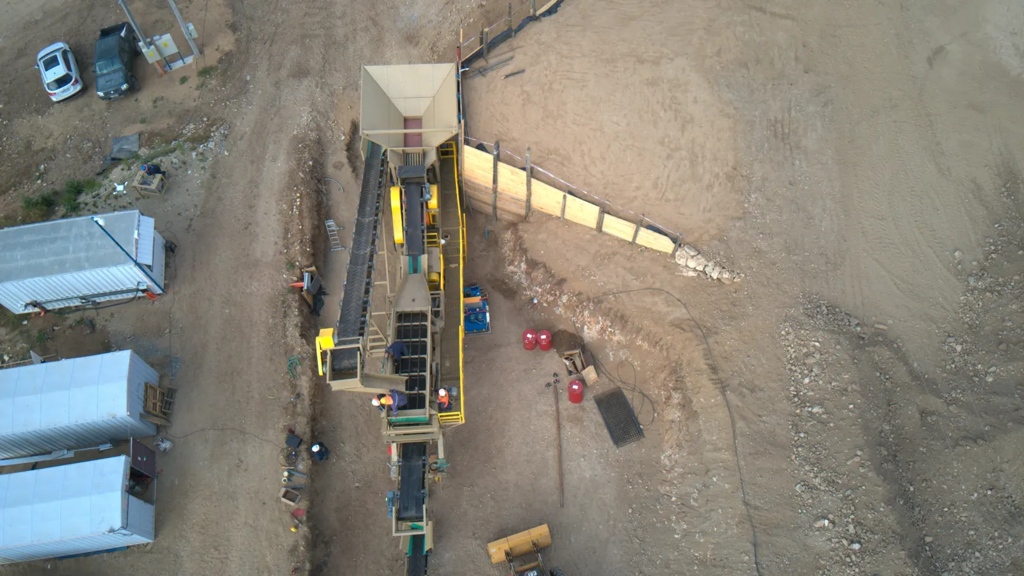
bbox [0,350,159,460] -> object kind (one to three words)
building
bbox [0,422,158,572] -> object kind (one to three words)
building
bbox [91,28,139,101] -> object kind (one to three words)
truck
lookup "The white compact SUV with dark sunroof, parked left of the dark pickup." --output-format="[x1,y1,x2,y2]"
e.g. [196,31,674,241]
[35,44,86,105]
